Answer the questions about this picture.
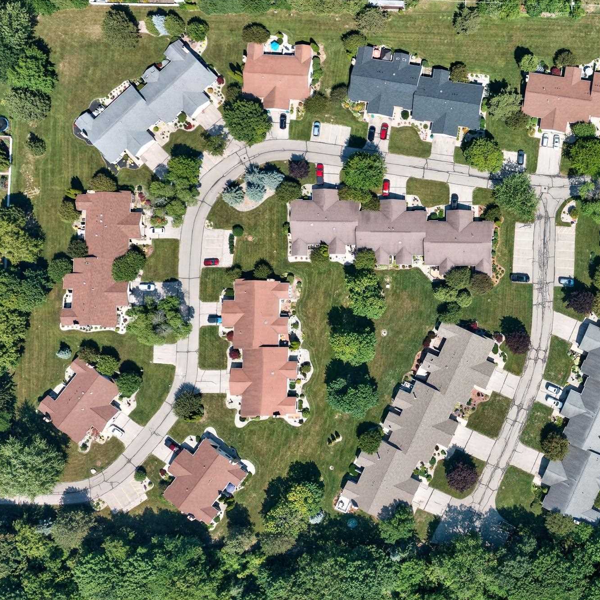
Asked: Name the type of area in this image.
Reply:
residential area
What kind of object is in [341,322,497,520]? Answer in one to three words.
house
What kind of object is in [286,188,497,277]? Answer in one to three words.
house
